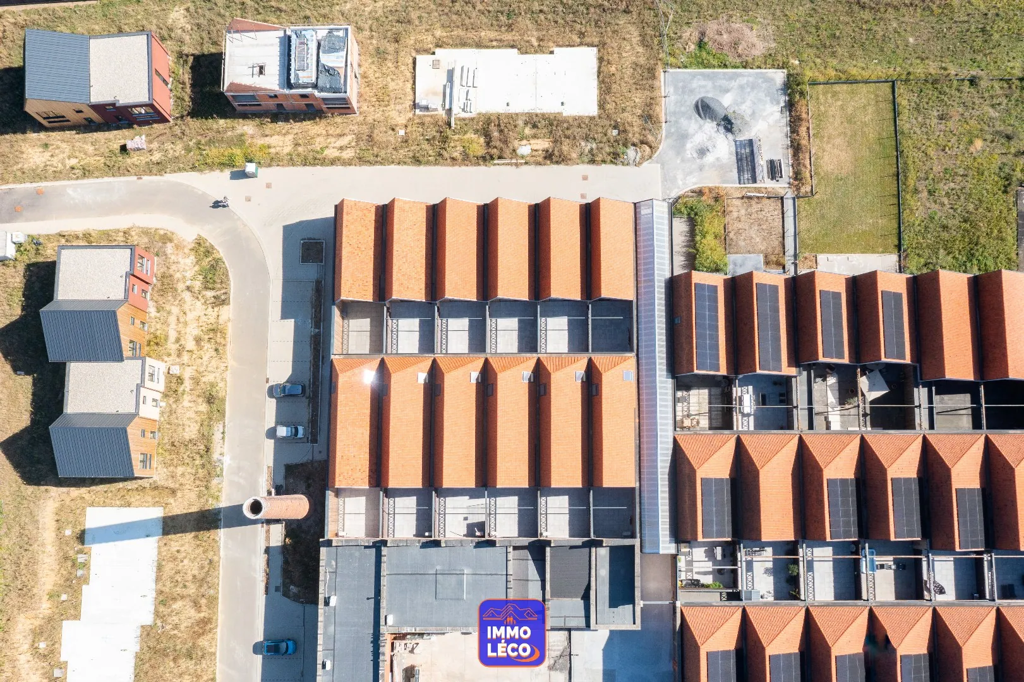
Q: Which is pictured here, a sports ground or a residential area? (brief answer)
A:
residential area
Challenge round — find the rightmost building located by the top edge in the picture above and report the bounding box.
[222,17,357,111]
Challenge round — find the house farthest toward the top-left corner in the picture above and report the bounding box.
[23,29,169,123]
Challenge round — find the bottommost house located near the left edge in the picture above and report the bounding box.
[49,357,162,479]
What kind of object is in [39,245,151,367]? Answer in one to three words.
house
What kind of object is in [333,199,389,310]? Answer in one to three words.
house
